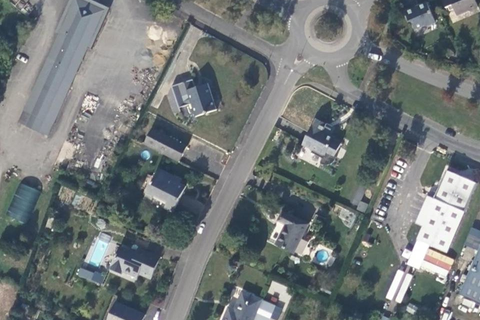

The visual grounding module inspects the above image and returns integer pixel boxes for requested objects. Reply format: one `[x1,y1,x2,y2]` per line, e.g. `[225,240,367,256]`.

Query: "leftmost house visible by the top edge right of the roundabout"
[402,0,437,34]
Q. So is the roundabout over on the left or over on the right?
right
